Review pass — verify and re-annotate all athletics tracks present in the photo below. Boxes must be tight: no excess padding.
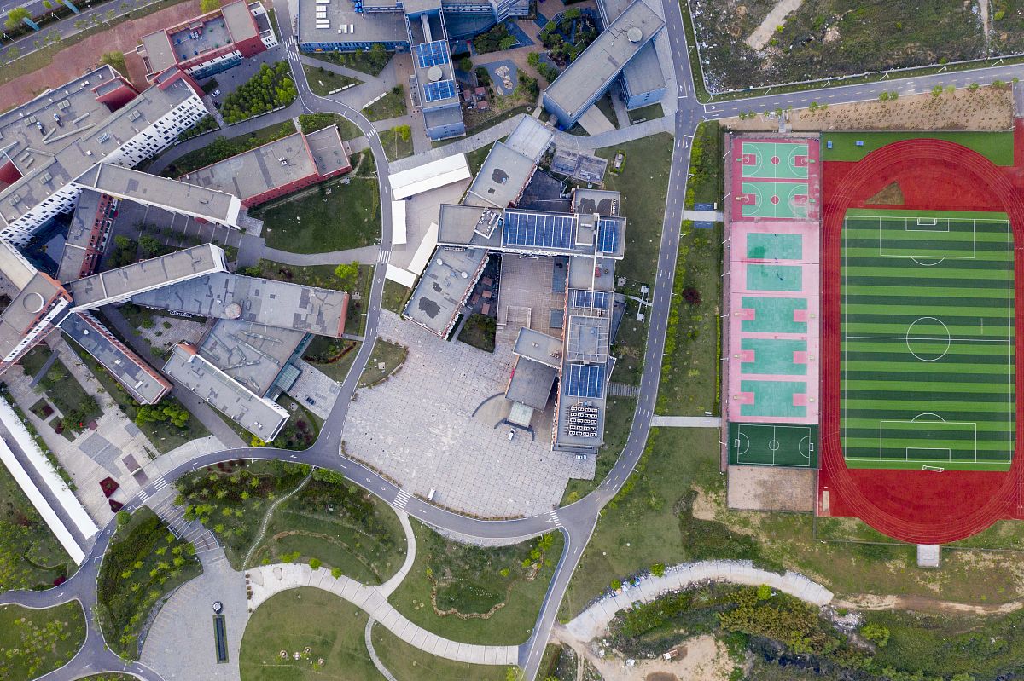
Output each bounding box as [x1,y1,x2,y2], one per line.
[822,137,1024,548]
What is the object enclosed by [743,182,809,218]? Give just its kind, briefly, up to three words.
basketball court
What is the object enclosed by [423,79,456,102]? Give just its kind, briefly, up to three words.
solar panel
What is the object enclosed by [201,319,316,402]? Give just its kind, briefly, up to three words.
building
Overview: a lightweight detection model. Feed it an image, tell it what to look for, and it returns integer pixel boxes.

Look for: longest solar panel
[503,212,577,249]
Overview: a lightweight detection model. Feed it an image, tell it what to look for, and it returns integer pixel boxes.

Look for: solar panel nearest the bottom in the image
[564,364,599,398]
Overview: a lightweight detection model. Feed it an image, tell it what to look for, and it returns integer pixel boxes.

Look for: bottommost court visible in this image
[741,380,807,417]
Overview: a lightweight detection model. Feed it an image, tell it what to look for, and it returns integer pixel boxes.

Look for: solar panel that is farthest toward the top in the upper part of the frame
[416,39,449,68]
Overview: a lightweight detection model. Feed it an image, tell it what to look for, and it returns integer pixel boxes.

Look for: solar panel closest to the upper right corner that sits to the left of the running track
[597,219,619,253]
